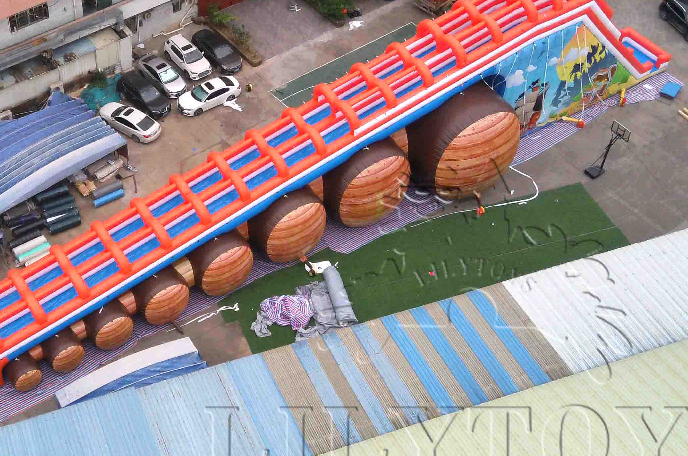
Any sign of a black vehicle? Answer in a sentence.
Yes, the image includes a black vehicle.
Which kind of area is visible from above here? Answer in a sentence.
This image shows an industrial area.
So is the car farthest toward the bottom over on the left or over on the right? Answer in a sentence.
The car farthest toward the bottom is on the left side of the image.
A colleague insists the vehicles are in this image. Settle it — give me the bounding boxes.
[347,3,366,17]
[656,0,688,38]
[175,75,245,117]
[96,105,166,150]
[131,51,186,100]
[188,27,243,77]
[111,66,171,121]
[157,31,212,84]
